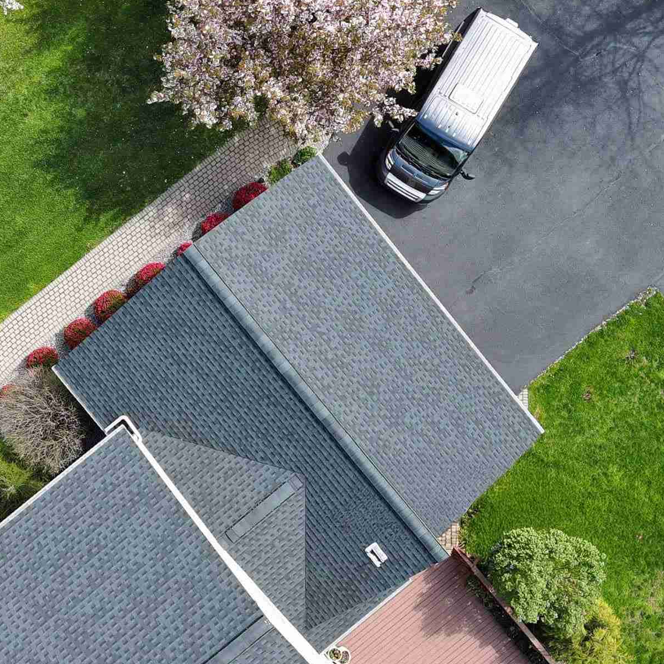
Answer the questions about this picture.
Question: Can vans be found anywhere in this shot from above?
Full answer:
Yes, there's a van here.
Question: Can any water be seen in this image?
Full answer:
No, there is no water in the image.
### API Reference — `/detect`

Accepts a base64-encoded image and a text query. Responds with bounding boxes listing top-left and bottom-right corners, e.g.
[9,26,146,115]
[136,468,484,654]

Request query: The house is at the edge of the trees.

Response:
[0,151,548,664]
